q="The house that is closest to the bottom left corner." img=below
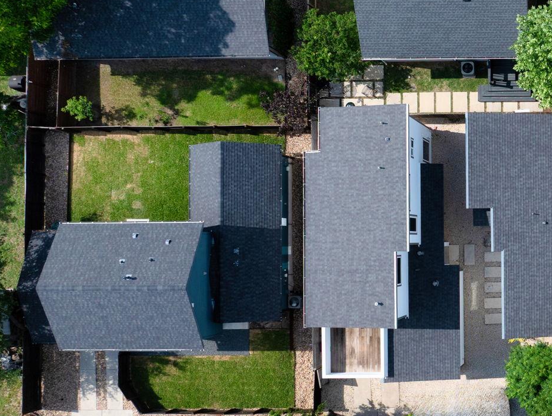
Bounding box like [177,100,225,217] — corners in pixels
[18,142,297,357]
